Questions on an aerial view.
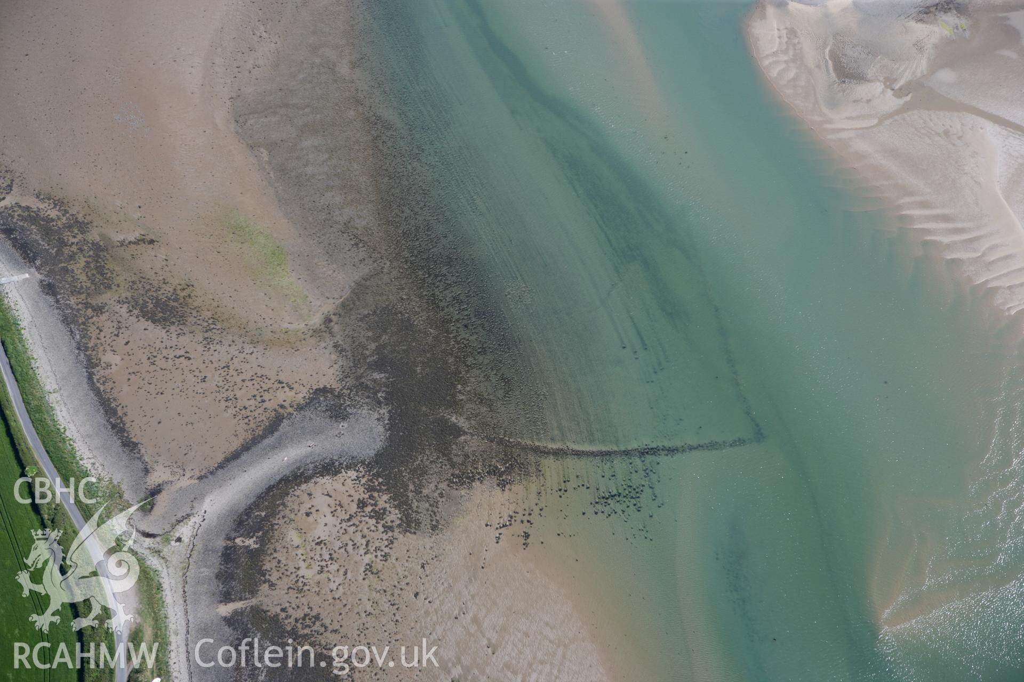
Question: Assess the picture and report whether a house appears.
No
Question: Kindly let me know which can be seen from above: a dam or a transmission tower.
dam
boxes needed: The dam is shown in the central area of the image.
[478,293,762,459]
